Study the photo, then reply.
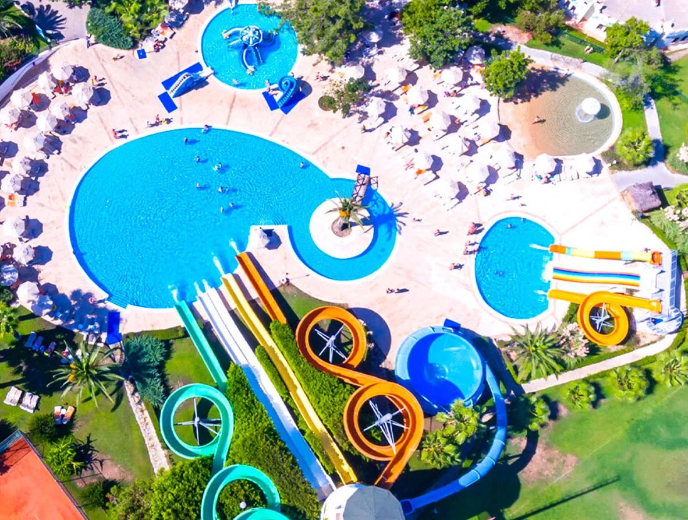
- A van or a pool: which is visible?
pool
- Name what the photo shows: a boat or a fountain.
fountain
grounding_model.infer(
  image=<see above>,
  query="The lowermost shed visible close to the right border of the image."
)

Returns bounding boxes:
[619,182,659,215]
